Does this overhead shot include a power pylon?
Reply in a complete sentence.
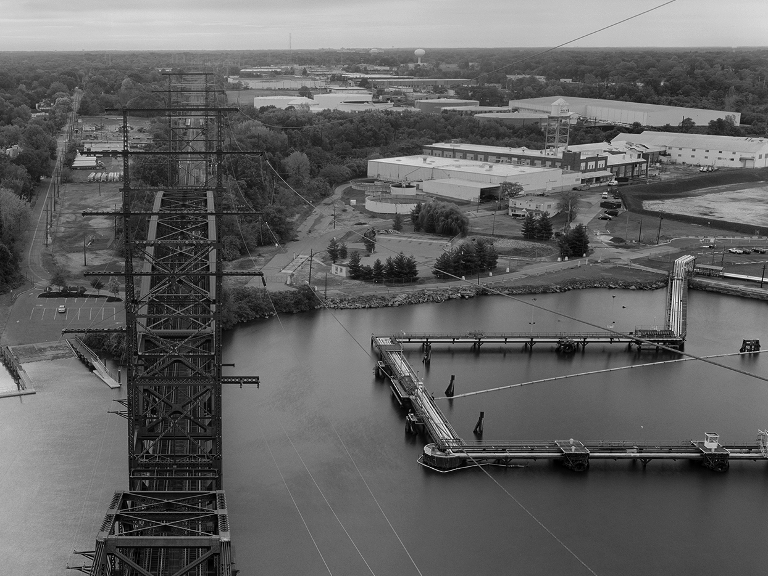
Yes, the photo shows a power pylon.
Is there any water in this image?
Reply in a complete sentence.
Yes, some water is visible.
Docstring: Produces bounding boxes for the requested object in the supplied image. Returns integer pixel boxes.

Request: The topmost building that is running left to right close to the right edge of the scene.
[509,97,741,130]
